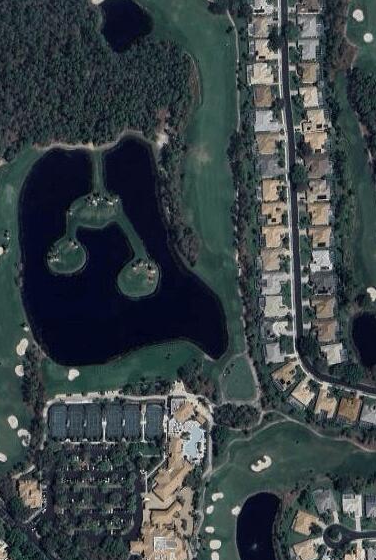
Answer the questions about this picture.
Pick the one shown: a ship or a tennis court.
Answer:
tennis court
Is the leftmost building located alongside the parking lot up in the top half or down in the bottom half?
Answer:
bottom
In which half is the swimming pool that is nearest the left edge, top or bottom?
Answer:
bottom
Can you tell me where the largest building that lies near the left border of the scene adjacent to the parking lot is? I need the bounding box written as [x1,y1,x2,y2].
[18,480,41,506]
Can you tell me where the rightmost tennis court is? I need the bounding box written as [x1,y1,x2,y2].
[146,404,162,439]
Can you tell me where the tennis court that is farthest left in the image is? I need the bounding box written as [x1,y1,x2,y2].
[48,404,67,439]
